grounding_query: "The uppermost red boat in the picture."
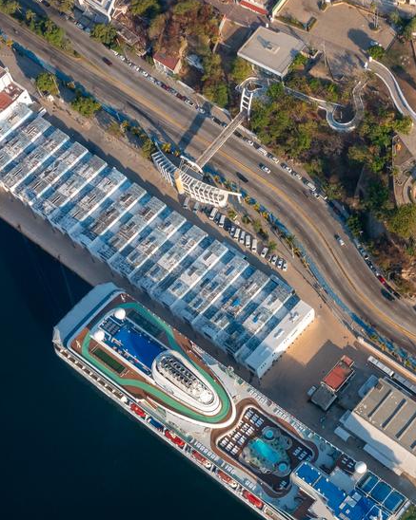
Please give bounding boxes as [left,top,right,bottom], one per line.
[126,400,145,416]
